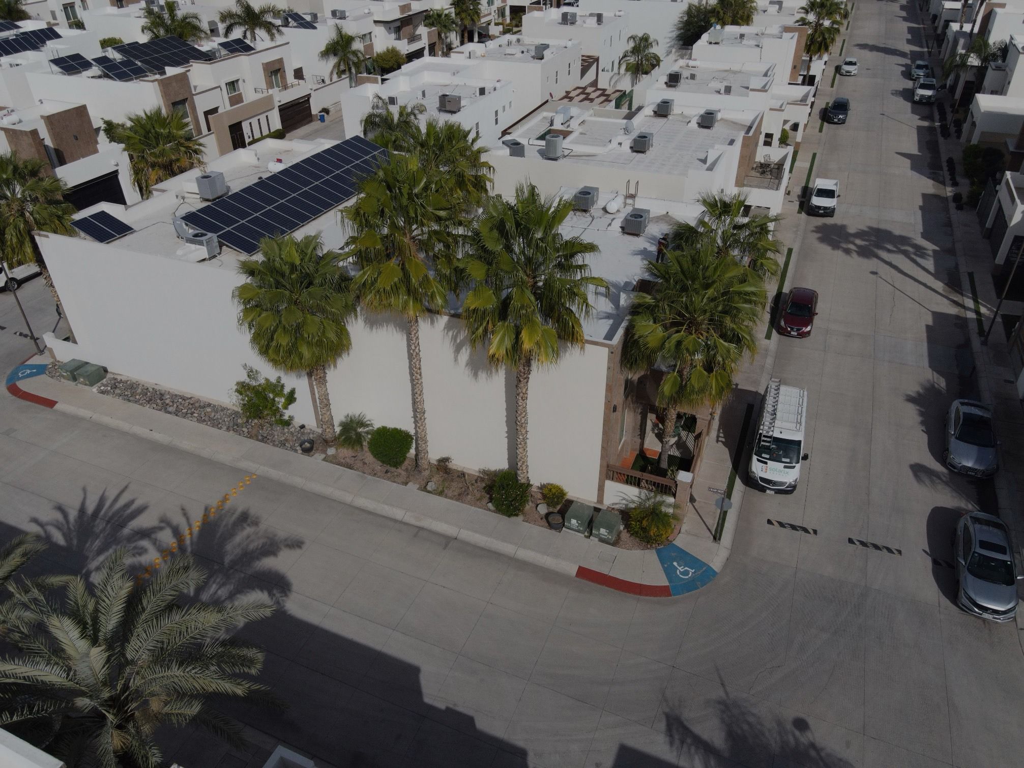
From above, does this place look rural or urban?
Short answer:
urban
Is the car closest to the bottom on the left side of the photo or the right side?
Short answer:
right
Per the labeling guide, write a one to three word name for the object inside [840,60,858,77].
car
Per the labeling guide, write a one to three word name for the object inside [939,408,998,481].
car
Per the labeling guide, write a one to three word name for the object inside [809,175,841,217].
truck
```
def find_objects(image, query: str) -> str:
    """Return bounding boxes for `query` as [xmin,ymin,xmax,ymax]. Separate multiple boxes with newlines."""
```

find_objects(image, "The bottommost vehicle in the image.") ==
[957,522,1024,627]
